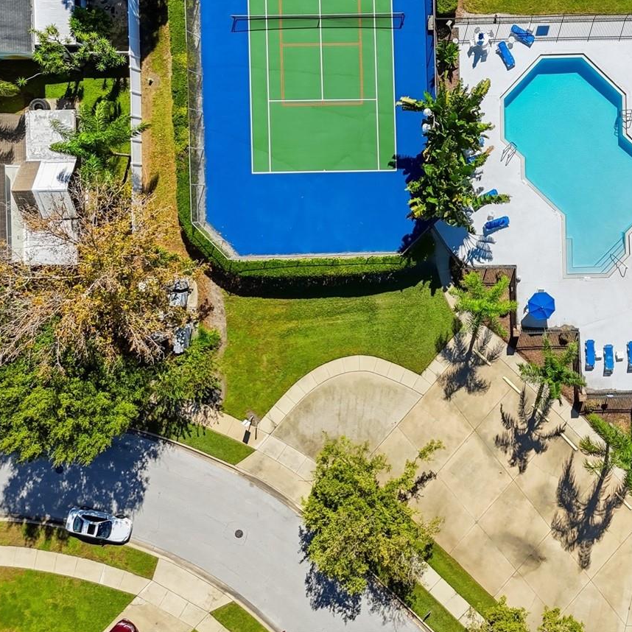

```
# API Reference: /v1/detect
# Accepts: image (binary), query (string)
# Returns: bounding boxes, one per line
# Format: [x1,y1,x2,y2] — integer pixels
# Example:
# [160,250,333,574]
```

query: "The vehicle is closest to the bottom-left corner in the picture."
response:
[102,616,137,632]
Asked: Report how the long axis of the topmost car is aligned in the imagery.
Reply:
from side to side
